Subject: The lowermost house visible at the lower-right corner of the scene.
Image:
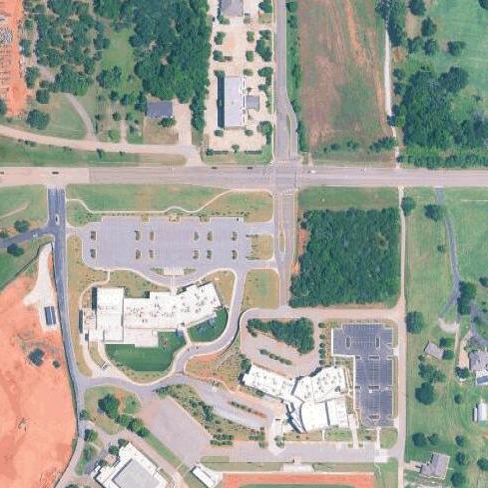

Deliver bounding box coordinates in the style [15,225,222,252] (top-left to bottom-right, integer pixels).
[421,454,450,479]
